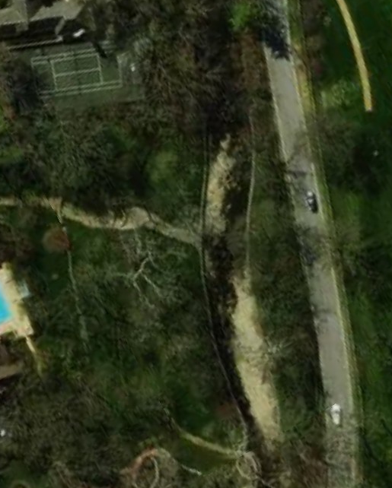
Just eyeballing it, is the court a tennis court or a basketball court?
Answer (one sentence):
The court is a tennis court.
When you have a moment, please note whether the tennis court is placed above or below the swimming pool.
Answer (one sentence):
Looking at the scene, the tennis court is located above the swimming pool.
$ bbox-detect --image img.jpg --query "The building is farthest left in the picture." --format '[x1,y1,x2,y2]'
[0,342,19,384]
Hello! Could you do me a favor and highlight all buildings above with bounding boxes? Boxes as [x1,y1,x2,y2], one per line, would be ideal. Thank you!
[0,0,81,38]
[0,342,19,384]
